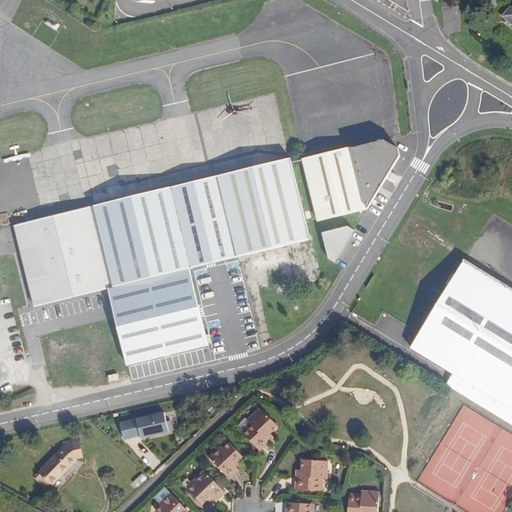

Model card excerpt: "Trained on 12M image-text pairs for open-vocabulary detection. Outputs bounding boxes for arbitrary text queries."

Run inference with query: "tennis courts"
[458,429,512,512]
[418,406,502,504]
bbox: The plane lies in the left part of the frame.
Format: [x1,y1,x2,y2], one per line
[4,144,31,165]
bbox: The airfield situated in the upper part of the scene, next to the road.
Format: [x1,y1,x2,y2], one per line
[0,0,398,258]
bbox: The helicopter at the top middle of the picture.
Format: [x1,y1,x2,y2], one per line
[222,94,252,122]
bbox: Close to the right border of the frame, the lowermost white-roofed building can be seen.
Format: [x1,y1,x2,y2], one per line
[410,259,512,421]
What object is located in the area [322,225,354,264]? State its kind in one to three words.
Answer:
building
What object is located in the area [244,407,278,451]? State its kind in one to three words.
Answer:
house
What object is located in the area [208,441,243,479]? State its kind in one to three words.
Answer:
house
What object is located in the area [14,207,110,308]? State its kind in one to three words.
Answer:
hangar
